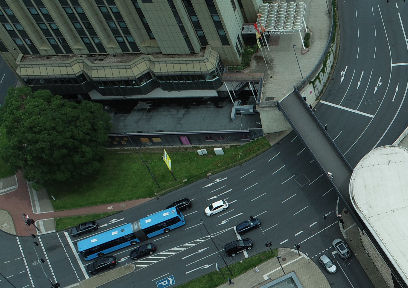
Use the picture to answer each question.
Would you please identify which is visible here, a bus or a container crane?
bus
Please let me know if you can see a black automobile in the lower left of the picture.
Yes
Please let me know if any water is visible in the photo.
No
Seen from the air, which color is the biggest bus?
blue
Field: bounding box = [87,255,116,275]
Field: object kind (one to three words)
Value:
car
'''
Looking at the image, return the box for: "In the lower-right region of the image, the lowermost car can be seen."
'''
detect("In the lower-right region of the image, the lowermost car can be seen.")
[317,253,335,272]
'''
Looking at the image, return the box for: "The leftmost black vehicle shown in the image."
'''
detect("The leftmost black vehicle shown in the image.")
[70,218,98,236]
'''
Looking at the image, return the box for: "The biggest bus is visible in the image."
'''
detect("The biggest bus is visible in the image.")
[78,205,187,257]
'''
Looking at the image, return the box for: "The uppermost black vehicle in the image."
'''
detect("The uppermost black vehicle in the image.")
[166,196,193,209]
